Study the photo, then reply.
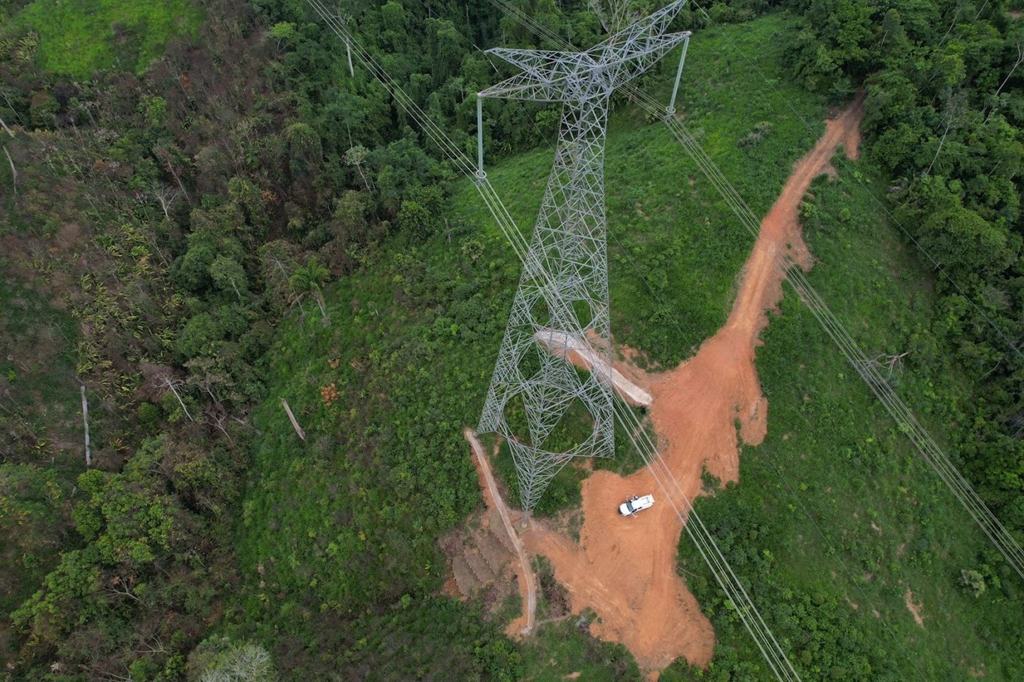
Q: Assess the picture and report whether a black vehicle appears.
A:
No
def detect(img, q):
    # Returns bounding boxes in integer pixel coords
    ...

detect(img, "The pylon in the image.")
[475,0,691,520]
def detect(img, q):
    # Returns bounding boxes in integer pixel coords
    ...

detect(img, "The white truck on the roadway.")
[617,493,655,518]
